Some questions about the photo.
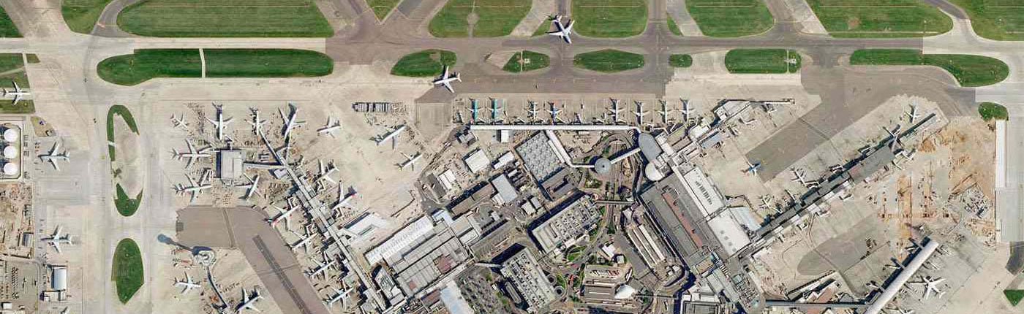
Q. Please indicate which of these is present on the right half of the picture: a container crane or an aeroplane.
aeroplane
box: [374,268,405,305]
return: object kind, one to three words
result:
building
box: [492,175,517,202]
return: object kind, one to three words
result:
building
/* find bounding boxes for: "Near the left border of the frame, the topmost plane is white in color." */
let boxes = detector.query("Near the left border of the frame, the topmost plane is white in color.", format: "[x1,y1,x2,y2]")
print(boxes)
[0,81,31,105]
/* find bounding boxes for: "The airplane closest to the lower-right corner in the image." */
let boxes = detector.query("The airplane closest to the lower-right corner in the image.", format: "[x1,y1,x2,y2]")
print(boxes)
[920,274,948,300]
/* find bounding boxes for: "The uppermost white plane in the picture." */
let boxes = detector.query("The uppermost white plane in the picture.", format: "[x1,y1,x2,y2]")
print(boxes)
[550,14,576,44]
